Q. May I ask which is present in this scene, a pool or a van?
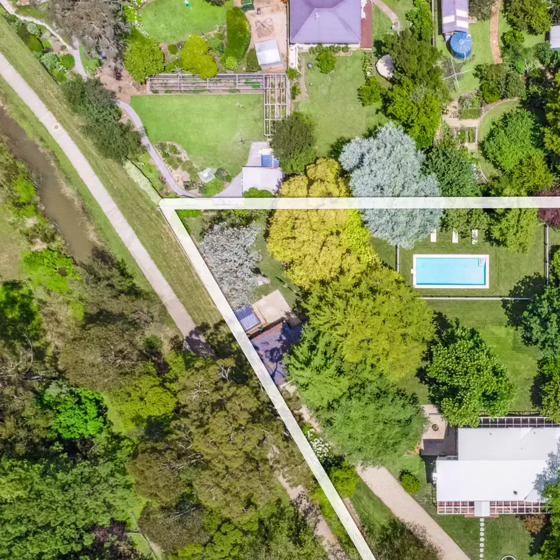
pool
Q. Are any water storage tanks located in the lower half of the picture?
No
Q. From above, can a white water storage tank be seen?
No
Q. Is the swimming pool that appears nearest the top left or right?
right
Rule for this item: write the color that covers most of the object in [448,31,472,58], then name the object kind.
blue water tank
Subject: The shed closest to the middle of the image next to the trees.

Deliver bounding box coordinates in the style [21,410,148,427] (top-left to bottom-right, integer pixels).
[235,304,264,332]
